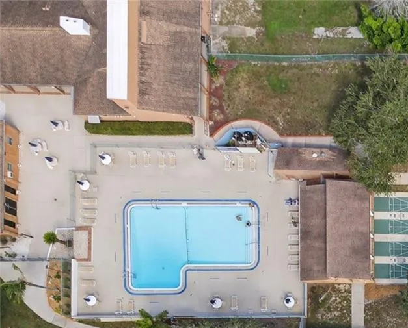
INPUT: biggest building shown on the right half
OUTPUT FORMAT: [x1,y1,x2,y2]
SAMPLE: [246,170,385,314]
[299,179,375,284]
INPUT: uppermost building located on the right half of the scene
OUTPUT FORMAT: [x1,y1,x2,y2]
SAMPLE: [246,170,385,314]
[275,148,352,180]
